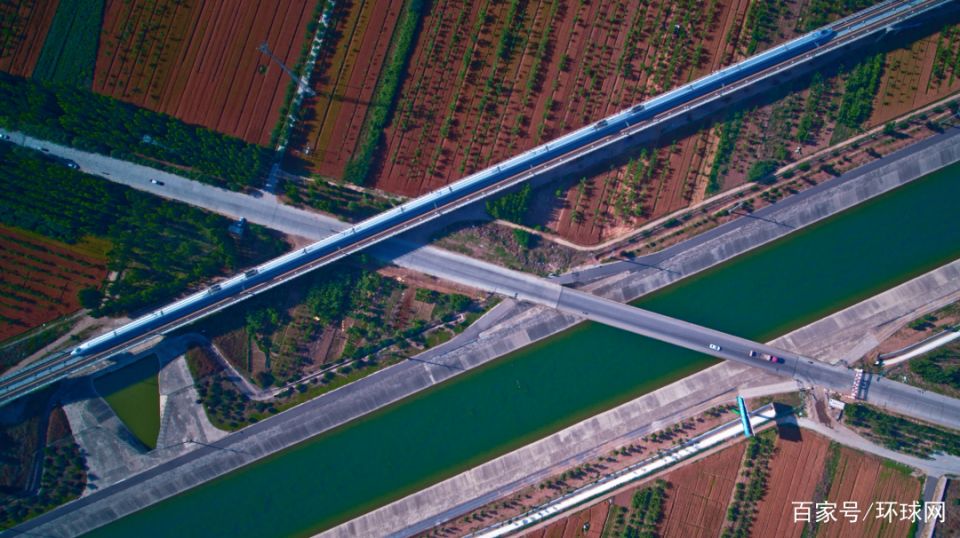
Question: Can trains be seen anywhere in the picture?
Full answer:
Yes, you can see a train in this photo.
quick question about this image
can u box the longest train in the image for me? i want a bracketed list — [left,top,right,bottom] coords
[79,30,831,353]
